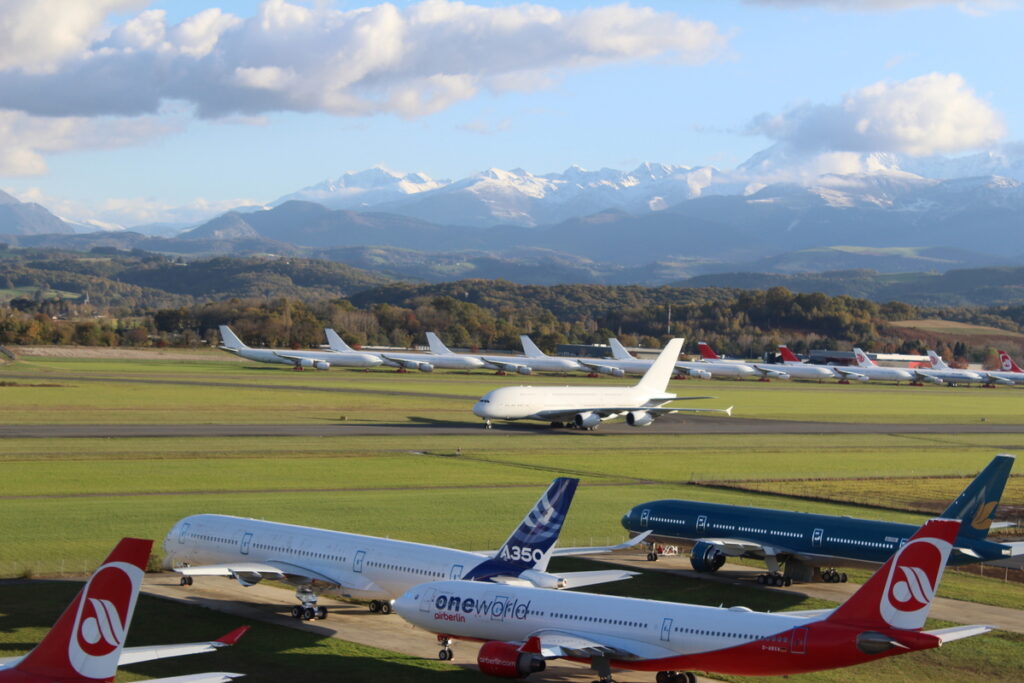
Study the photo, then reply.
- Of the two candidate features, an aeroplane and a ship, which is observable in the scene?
aeroplane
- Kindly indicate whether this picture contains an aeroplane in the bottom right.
Yes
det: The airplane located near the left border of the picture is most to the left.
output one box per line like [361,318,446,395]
[0,543,256,683]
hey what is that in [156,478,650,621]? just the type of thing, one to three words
airplane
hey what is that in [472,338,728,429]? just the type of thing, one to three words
airplane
